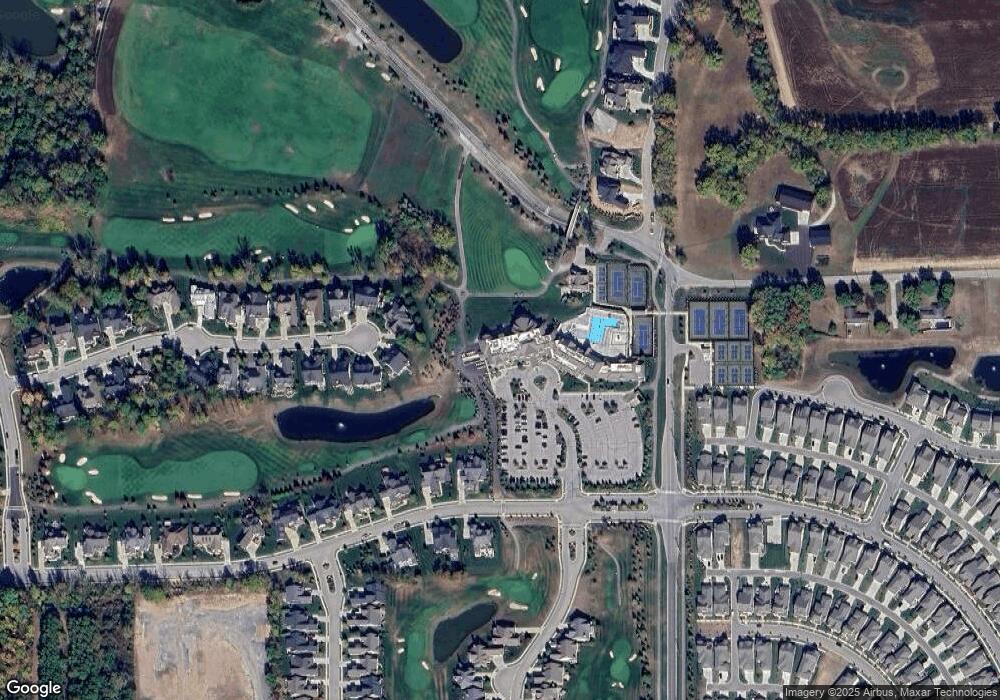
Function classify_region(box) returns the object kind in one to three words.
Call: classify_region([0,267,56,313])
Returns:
pond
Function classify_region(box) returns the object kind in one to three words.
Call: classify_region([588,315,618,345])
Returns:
swimming pool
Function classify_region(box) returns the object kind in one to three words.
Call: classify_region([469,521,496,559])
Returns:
house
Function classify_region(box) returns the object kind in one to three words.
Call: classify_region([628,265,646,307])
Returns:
tennis court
